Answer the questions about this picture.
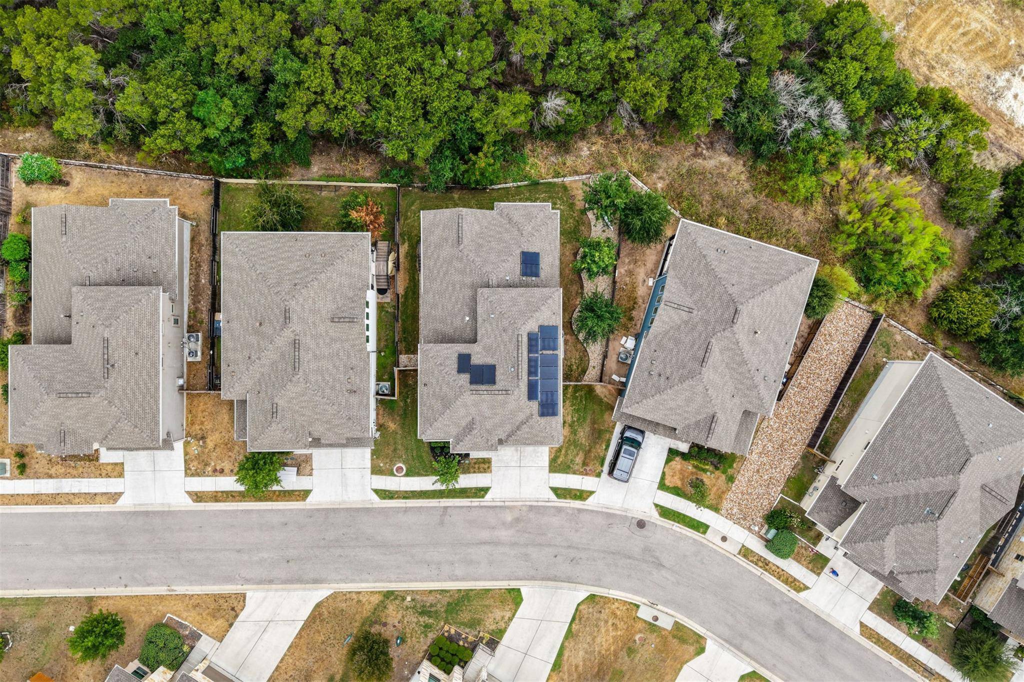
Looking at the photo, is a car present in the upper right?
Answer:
No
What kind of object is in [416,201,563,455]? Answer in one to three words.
house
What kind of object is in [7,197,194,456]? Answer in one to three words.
house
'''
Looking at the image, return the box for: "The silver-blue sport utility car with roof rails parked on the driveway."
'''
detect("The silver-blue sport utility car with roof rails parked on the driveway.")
[609,426,644,486]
